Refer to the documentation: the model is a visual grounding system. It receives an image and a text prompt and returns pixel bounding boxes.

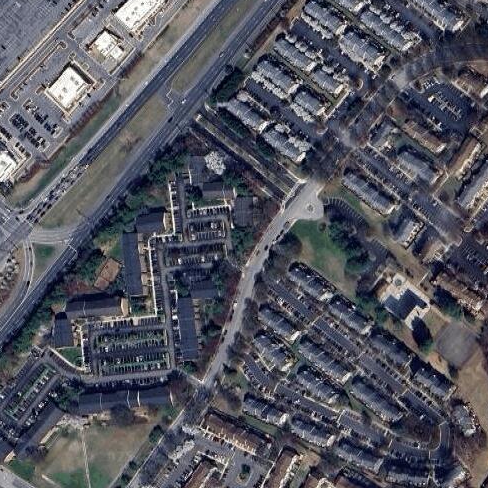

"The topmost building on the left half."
[115,0,171,32]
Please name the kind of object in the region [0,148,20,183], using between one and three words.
building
